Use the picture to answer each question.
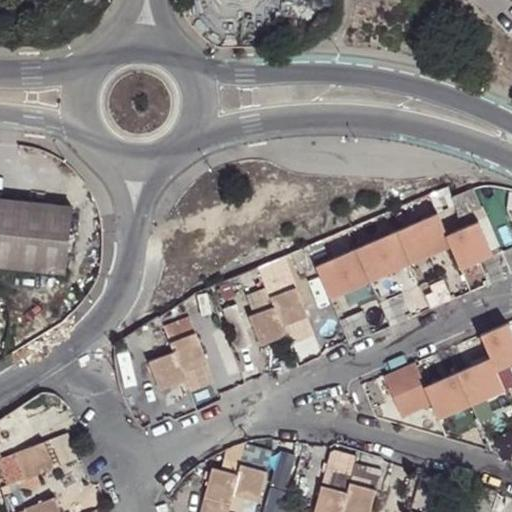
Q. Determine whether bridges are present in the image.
No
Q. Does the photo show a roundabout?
Yes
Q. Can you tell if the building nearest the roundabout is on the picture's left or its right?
left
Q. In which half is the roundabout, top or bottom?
top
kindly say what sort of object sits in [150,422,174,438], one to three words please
vehicle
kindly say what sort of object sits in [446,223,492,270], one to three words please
house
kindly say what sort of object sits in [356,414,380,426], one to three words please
vehicle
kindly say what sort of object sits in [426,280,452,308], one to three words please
shed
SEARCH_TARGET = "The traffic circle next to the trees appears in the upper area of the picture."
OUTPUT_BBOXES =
[80,43,200,163]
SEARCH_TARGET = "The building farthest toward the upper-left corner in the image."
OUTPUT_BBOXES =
[0,190,72,276]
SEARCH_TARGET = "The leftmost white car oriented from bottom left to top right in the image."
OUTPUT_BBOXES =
[80,406,96,424]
